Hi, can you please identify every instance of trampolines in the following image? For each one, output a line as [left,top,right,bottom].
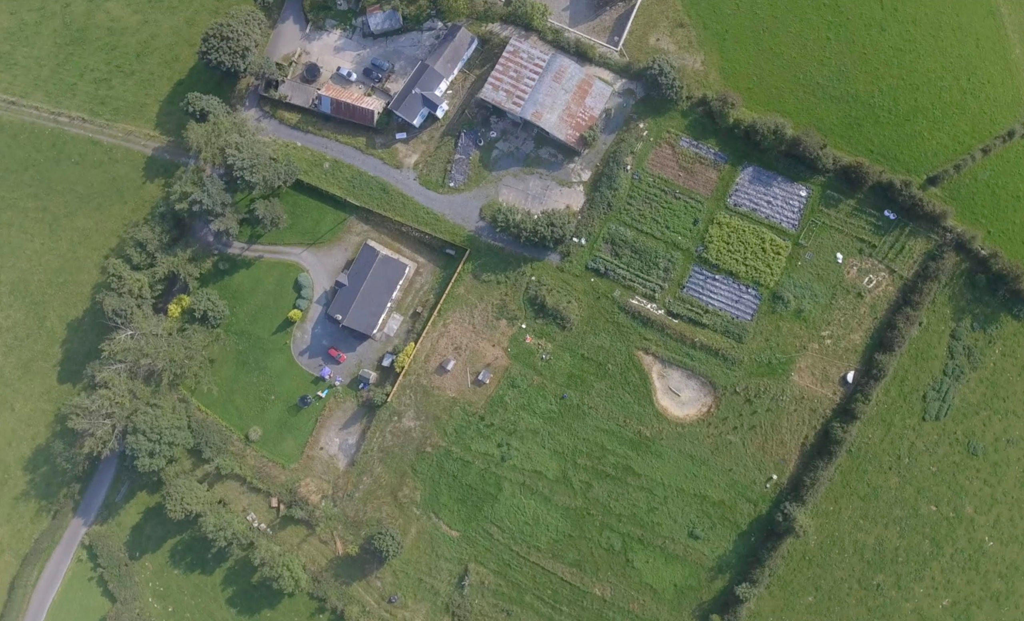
[295,394,313,409]
[302,62,320,81]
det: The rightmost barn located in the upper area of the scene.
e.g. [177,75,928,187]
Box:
[477,38,613,155]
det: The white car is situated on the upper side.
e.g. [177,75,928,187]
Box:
[335,65,359,83]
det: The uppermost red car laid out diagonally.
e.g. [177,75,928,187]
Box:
[326,347,348,364]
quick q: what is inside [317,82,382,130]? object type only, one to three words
shed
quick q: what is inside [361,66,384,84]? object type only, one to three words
car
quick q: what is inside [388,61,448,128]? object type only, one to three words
house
